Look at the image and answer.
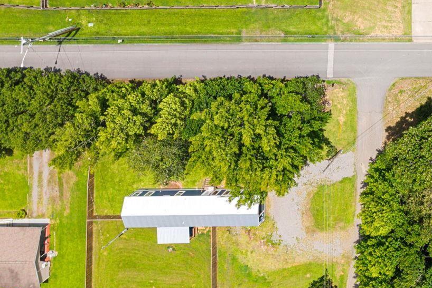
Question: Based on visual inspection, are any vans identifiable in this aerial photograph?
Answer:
No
